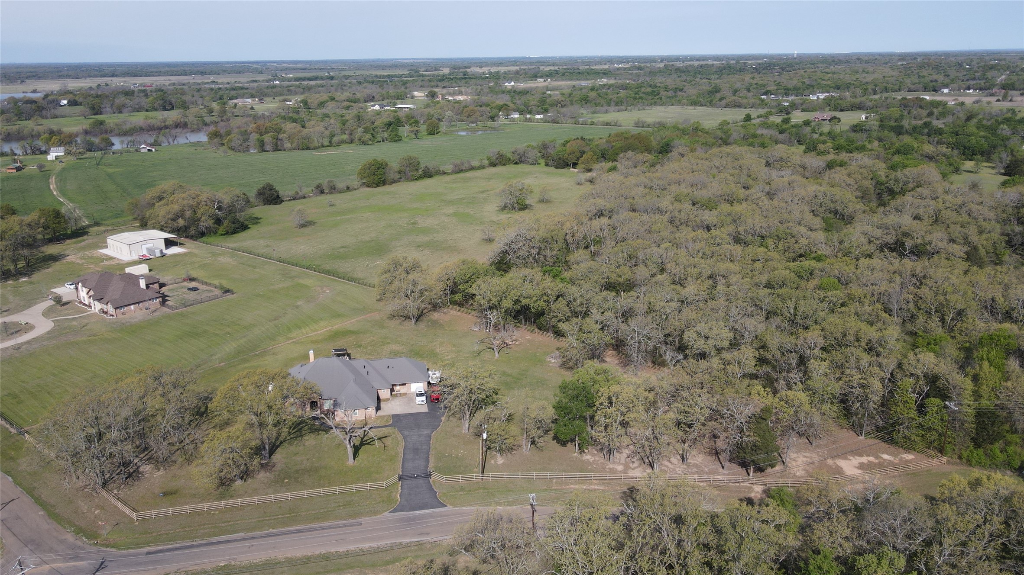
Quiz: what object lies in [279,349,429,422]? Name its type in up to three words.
house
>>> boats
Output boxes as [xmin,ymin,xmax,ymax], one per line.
[428,367,440,382]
